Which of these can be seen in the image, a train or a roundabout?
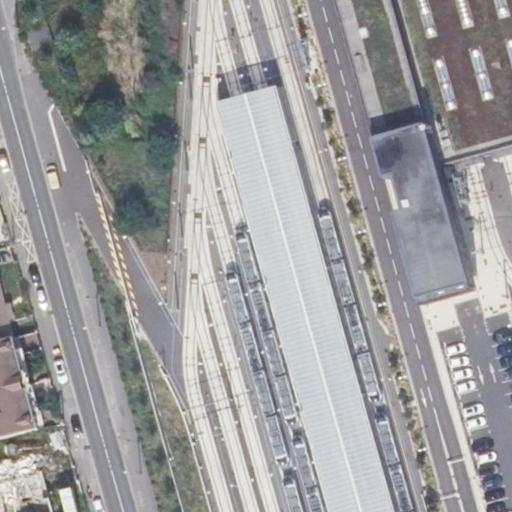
train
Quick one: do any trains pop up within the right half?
Yes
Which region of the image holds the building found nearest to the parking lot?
right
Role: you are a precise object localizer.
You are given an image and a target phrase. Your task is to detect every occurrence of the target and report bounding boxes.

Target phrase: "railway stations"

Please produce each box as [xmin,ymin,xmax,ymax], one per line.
[218,86,398,512]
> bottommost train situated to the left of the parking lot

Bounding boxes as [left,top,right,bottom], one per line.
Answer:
[284,478,305,512]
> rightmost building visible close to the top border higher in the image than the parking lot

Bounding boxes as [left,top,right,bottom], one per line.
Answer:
[399,0,512,162]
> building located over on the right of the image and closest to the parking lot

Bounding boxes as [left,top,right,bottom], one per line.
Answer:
[372,124,469,302]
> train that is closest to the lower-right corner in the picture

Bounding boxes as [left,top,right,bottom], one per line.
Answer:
[377,414,416,512]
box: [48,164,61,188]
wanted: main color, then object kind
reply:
white vehicle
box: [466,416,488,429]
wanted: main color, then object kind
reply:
white vehicle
